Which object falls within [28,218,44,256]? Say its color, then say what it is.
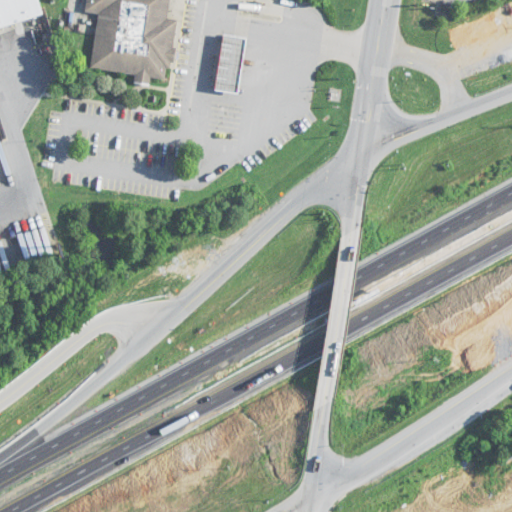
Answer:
white vehicle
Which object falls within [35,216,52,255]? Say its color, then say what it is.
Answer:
white vehicle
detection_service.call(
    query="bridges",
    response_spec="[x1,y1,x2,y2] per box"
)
[314,230,361,409]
